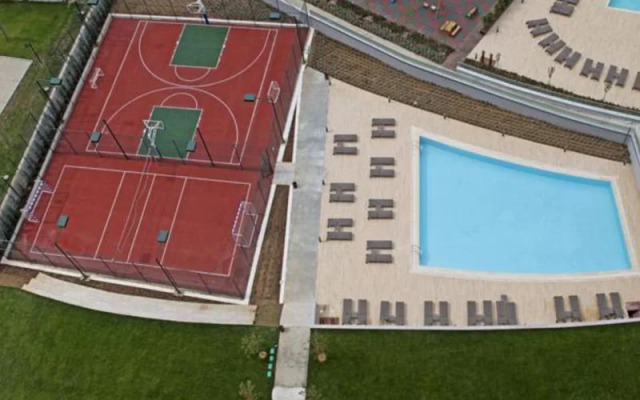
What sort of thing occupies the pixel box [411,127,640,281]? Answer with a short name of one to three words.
swimming pool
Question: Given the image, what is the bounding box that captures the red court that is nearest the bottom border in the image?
[9,152,277,298]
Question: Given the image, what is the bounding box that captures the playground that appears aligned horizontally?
[358,0,498,49]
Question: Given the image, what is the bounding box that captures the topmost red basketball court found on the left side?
[54,17,309,172]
